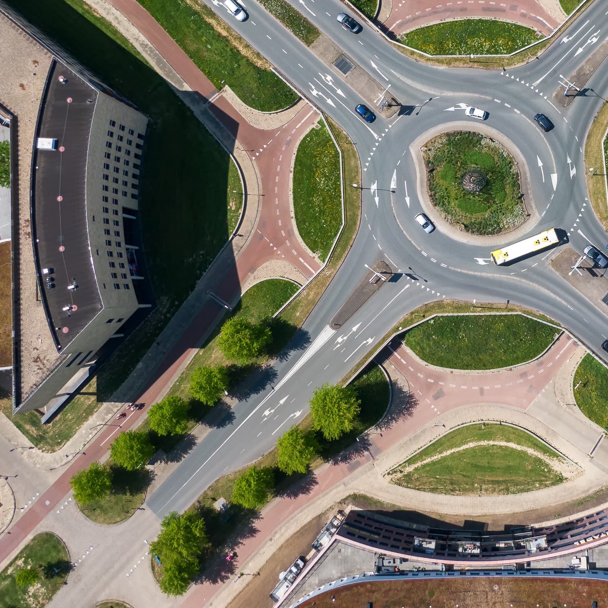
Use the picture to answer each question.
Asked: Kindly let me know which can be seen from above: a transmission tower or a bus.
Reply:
bus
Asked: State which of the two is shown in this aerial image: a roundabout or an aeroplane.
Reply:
roundabout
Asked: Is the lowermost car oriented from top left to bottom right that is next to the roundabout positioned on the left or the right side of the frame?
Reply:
right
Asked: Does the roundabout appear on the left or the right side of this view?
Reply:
right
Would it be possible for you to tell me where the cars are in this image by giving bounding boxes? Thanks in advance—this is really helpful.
[224,0,248,22]
[583,243,608,270]
[463,106,489,122]
[335,11,360,36]
[353,102,376,124]
[413,210,436,235]
[600,338,608,353]
[531,111,554,133]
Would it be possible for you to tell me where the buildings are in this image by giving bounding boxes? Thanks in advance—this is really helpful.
[257,501,608,608]
[0,0,153,424]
